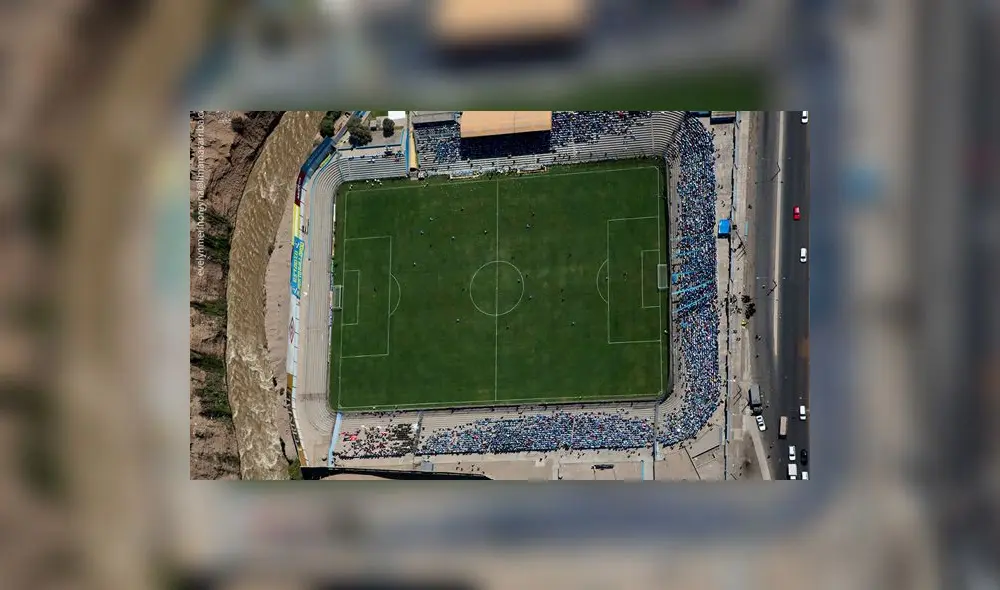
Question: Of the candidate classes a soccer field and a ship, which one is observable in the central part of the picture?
soccer field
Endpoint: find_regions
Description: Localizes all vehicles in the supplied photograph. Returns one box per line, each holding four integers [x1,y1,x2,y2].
[788,464,798,485]
[780,417,788,441]
[801,449,808,466]
[802,470,808,486]
[794,206,801,221]
[788,445,796,461]
[757,414,766,432]
[802,109,808,124]
[750,383,762,414]
[800,247,807,263]
[800,404,806,420]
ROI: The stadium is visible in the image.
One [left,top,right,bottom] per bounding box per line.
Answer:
[305,78,720,471]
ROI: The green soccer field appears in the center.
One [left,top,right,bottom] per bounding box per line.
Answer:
[328,159,672,411]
